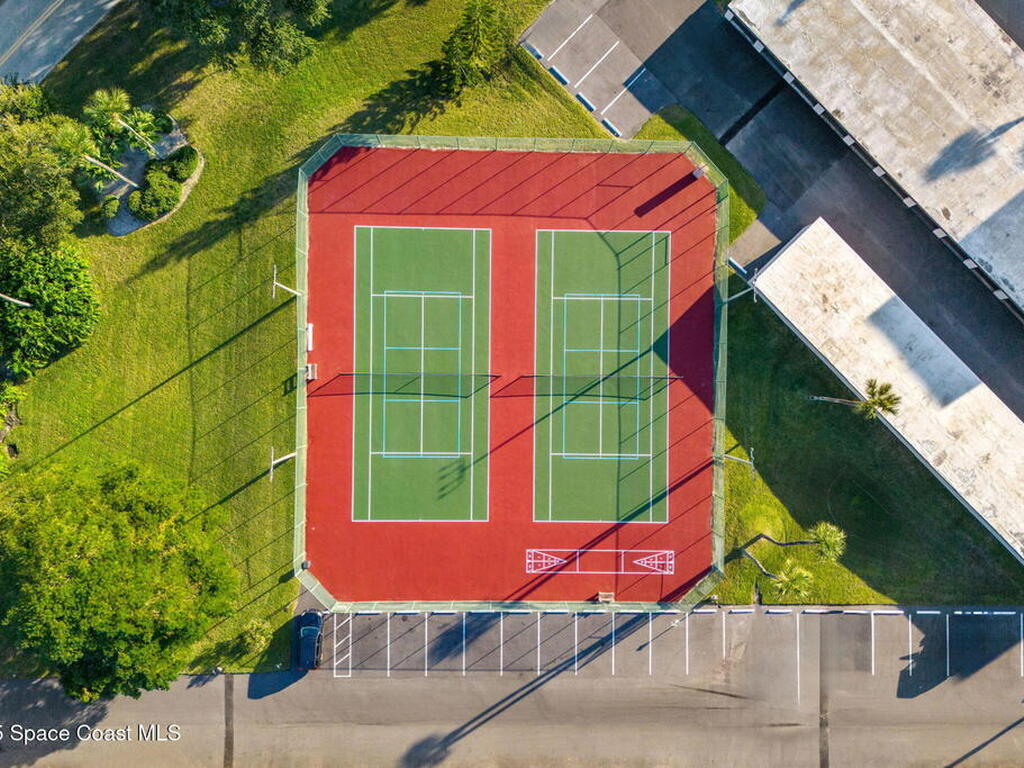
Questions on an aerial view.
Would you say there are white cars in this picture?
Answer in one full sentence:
No, this view has no white car in it.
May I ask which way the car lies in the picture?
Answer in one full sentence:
From this overhead view, the car appears to run vertically.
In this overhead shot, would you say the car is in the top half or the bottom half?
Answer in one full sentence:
The car is in the bottom half of the image.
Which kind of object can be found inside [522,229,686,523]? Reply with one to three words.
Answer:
tennis court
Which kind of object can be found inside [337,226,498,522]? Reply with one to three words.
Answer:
tennis court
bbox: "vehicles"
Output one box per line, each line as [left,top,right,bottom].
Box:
[294,608,324,671]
